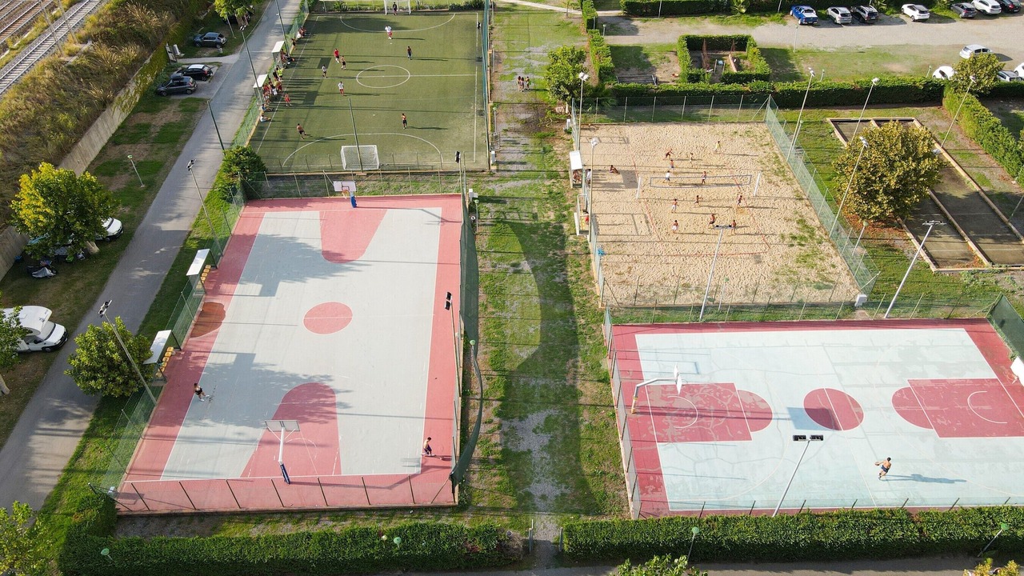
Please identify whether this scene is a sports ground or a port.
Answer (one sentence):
It's a sports ground.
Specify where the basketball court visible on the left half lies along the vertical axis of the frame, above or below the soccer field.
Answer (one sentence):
Within the scene, the basketball court visible on the left half can be found below the soccer field.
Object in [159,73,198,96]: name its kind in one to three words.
car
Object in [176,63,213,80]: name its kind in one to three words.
car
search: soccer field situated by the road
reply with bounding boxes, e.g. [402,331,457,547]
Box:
[238,9,487,173]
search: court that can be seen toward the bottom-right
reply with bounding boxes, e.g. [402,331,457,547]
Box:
[607,315,1024,524]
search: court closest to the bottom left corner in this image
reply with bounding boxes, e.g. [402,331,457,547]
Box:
[114,193,460,513]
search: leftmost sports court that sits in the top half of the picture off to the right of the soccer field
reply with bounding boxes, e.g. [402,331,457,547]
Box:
[575,118,866,308]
